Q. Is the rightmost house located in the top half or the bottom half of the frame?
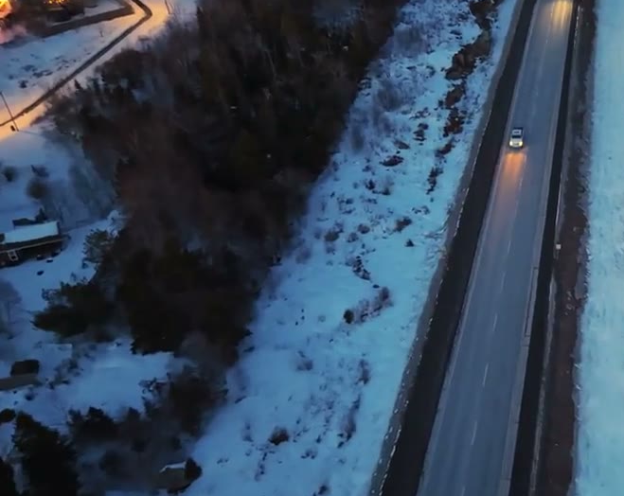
bottom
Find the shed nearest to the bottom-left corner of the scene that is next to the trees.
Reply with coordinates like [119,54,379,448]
[0,355,46,392]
